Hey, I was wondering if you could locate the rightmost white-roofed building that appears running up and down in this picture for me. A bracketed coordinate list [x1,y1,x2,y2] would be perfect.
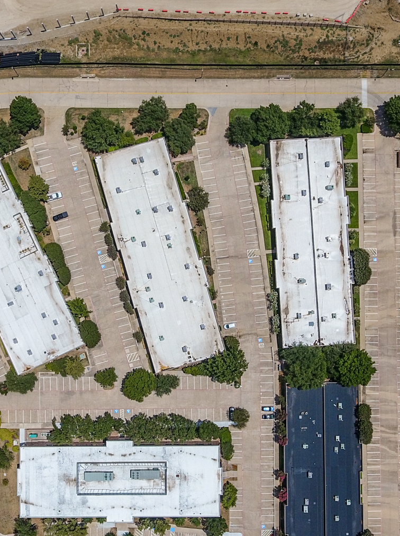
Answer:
[268,136,356,348]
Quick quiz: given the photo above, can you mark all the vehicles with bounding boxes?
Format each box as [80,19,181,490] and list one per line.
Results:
[229,405,234,419]
[47,191,62,201]
[223,322,236,330]
[52,212,69,221]
[261,406,274,411]
[261,413,274,420]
